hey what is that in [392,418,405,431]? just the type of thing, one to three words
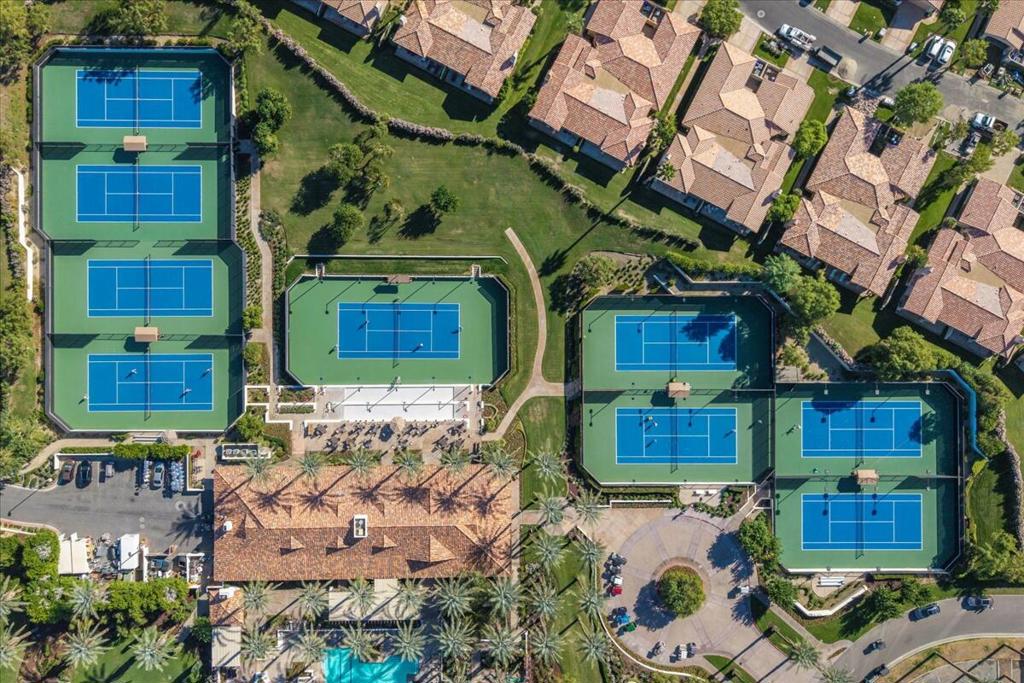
umbrella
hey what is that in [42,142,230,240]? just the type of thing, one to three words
tennis court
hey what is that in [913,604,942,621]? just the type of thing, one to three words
car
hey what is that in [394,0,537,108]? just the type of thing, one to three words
house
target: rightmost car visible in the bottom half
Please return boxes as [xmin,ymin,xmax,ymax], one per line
[965,598,993,611]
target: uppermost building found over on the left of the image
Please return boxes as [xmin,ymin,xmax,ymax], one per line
[288,0,395,47]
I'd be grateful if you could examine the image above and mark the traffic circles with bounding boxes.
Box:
[609,515,755,661]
